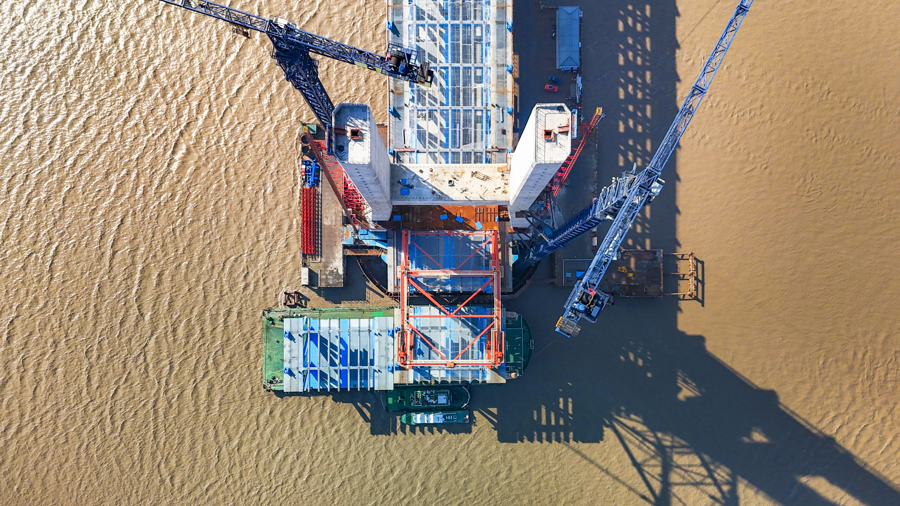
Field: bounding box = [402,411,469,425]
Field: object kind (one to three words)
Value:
boat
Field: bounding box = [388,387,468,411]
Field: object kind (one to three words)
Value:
boat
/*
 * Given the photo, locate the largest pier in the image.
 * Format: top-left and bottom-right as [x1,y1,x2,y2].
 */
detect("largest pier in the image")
[618,249,662,299]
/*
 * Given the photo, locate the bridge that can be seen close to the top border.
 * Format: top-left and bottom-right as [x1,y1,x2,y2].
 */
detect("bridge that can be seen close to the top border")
[388,0,512,165]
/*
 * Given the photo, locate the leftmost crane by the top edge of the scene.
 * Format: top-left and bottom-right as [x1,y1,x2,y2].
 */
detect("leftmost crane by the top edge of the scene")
[142,0,438,133]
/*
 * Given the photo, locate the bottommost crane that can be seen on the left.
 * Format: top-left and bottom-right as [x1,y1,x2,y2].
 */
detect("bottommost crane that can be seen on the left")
[304,126,367,228]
